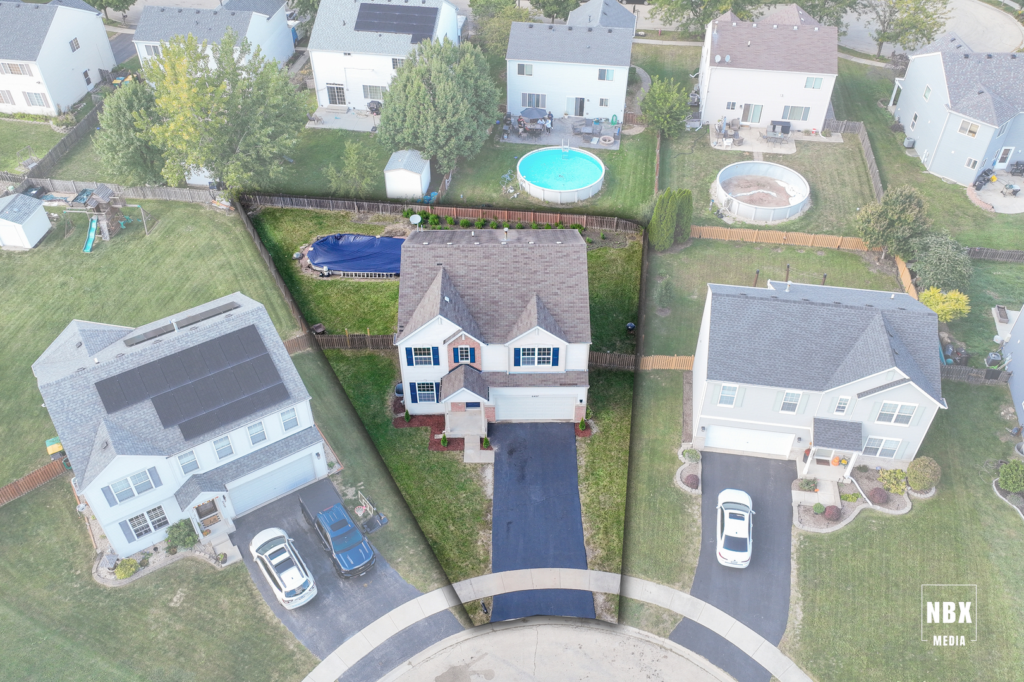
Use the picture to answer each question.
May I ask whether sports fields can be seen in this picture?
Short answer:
No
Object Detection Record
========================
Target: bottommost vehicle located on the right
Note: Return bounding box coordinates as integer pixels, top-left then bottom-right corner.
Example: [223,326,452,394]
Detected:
[715,488,756,569]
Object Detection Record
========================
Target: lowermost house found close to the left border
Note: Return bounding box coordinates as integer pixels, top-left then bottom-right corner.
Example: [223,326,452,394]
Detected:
[32,288,341,564]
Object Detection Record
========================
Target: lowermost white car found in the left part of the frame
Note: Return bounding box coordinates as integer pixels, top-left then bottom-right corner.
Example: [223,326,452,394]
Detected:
[256,526,318,613]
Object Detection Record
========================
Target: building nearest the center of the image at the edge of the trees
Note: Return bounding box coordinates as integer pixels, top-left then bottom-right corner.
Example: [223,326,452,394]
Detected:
[395,214,593,449]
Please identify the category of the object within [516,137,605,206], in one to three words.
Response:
swimming pool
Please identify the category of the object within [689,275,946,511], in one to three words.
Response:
house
